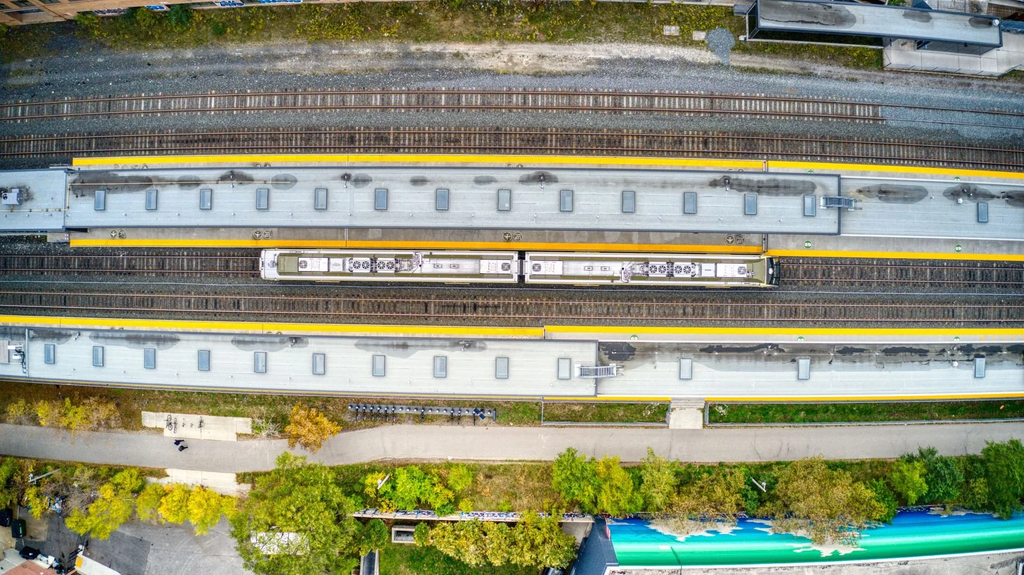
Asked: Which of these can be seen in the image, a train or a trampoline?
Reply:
train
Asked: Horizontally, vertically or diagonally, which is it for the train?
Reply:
horizontally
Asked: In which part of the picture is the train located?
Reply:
center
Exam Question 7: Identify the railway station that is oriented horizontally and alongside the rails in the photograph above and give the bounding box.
[0,153,1024,410]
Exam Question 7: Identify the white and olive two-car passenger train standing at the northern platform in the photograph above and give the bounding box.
[261,250,781,288]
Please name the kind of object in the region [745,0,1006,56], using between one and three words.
building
